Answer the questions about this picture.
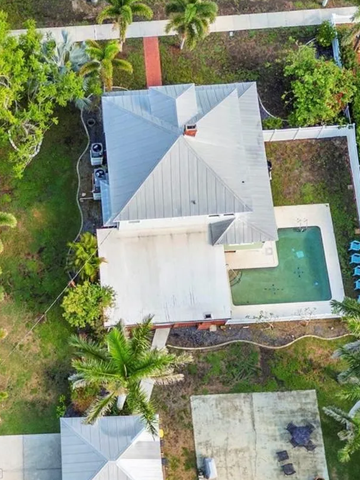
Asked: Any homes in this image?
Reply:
Yes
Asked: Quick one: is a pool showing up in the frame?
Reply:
Yes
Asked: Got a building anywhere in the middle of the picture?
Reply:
Yes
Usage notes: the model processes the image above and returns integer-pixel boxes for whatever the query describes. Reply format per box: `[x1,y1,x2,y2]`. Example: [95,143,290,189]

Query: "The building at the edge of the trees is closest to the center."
[97,81,278,334]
